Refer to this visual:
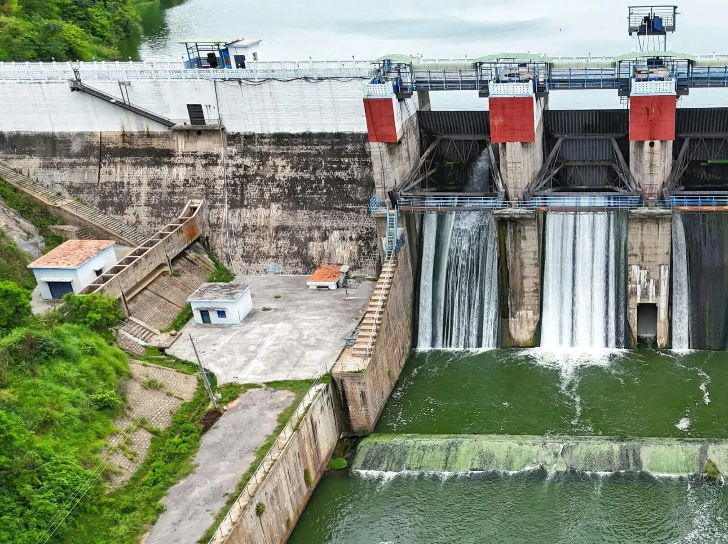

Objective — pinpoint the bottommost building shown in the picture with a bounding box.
[185,284,253,325]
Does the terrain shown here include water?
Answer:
Yes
